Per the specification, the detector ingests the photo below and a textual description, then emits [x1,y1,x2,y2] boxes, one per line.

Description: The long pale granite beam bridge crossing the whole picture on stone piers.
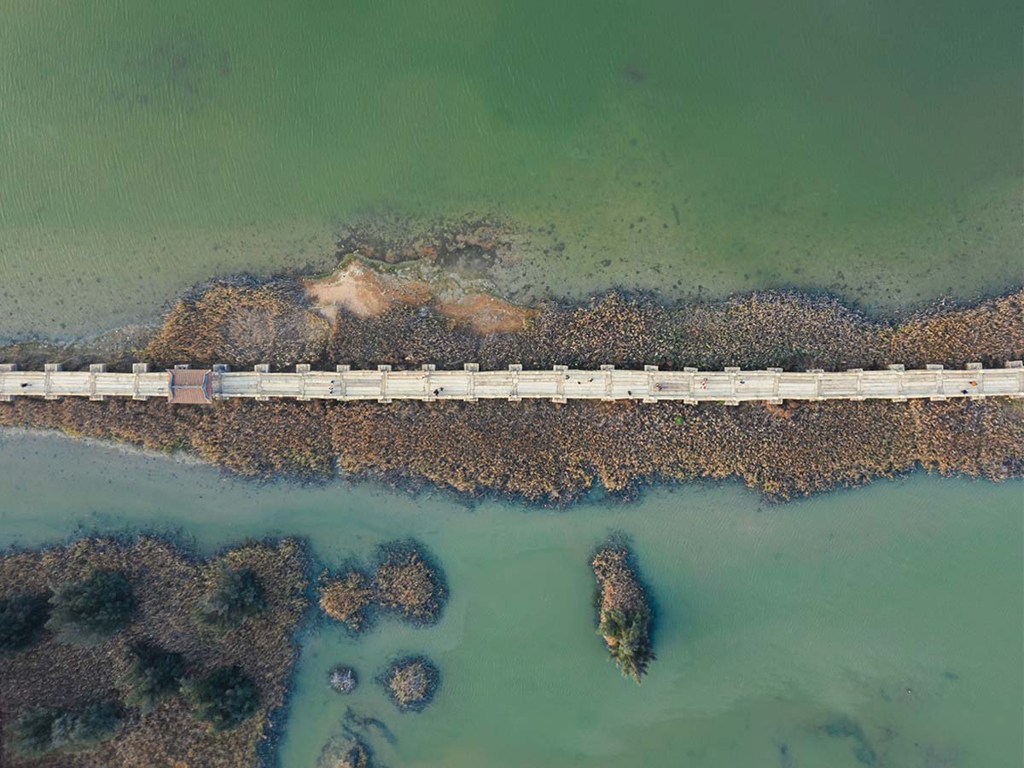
[0,361,1024,406]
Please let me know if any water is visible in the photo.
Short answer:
Yes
